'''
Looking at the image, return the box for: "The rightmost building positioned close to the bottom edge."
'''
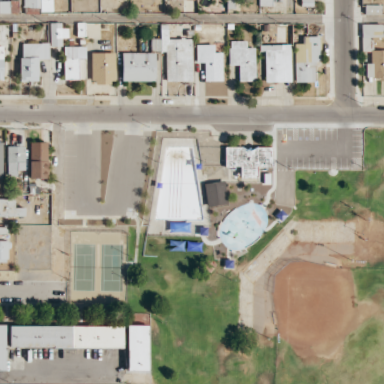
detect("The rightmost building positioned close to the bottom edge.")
[128,326,151,371]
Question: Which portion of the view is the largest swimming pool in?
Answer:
center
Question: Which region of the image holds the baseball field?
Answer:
bottom right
